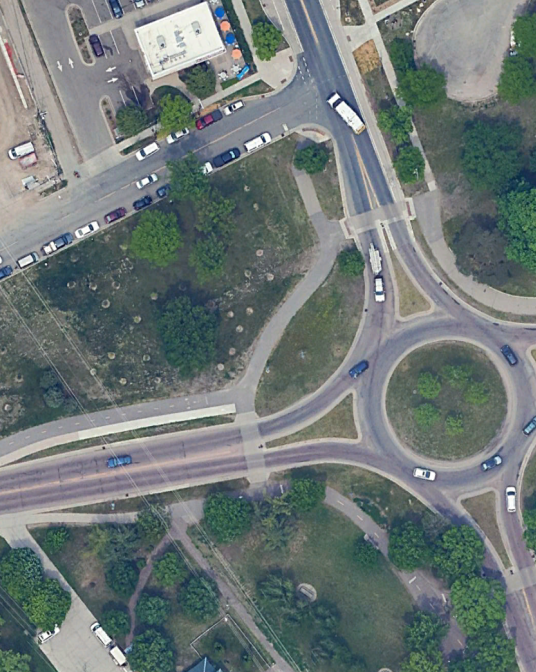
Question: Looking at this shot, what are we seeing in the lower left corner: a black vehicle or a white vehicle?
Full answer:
It is a white vehicle that can be seen in the lower left corner.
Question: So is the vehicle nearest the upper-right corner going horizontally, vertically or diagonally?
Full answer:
From this overhead view, the vehicle nearest the upper-right corner appears to run diagonally.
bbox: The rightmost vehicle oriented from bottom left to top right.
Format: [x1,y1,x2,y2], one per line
[522,415,536,436]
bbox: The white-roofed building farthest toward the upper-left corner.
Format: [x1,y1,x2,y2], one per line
[136,0,226,81]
